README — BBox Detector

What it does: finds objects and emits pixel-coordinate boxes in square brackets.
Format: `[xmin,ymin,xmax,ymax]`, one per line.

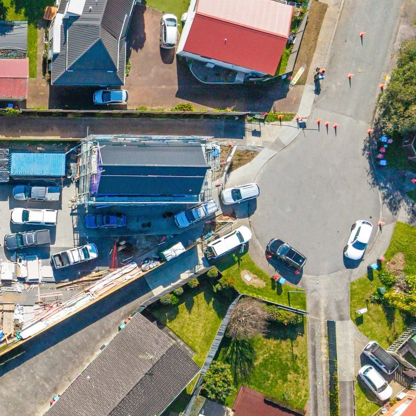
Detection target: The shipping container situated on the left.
[7,153,67,178]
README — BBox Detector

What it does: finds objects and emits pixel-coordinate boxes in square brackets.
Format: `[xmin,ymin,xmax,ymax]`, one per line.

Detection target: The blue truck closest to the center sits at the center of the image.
[171,196,222,229]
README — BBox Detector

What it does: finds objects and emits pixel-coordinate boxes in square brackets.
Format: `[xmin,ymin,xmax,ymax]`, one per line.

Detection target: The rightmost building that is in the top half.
[177,0,295,79]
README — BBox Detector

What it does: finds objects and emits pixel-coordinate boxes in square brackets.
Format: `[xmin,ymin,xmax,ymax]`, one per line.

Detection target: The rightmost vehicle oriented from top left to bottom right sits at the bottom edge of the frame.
[357,363,395,402]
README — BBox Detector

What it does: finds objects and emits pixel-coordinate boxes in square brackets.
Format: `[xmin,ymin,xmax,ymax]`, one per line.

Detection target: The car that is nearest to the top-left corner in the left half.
[92,87,129,106]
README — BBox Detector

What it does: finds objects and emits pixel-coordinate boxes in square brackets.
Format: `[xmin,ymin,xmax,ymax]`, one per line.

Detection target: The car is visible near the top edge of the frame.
[158,13,180,49]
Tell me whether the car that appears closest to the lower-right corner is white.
Yes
